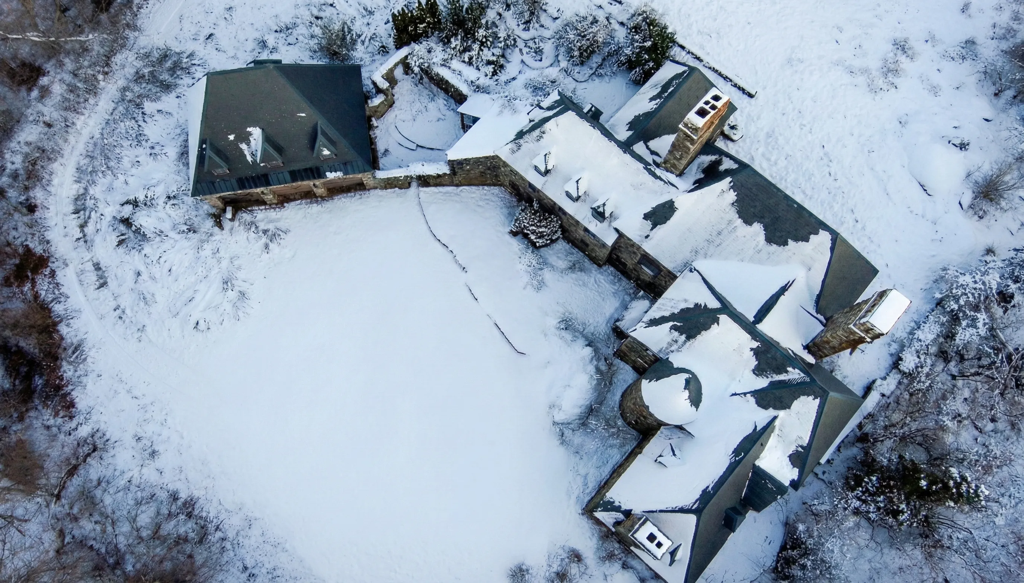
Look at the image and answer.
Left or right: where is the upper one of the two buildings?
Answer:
left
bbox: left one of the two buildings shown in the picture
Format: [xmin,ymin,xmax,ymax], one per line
[188,51,377,211]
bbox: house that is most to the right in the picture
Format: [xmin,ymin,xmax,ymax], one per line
[447,59,912,583]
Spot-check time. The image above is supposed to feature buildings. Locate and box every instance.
[188,51,377,211]
[447,59,912,583]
